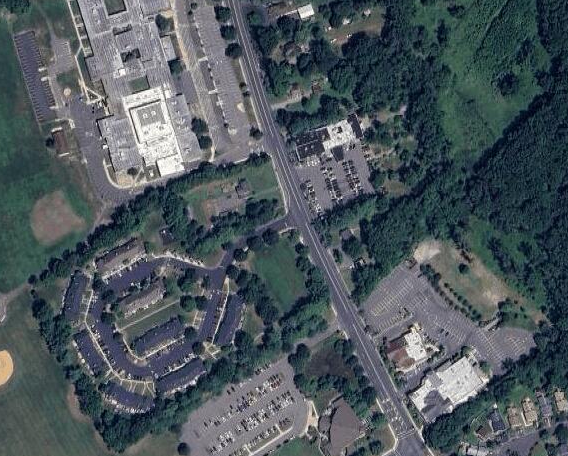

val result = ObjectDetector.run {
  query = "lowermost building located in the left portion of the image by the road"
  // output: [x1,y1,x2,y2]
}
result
[102,380,156,412]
